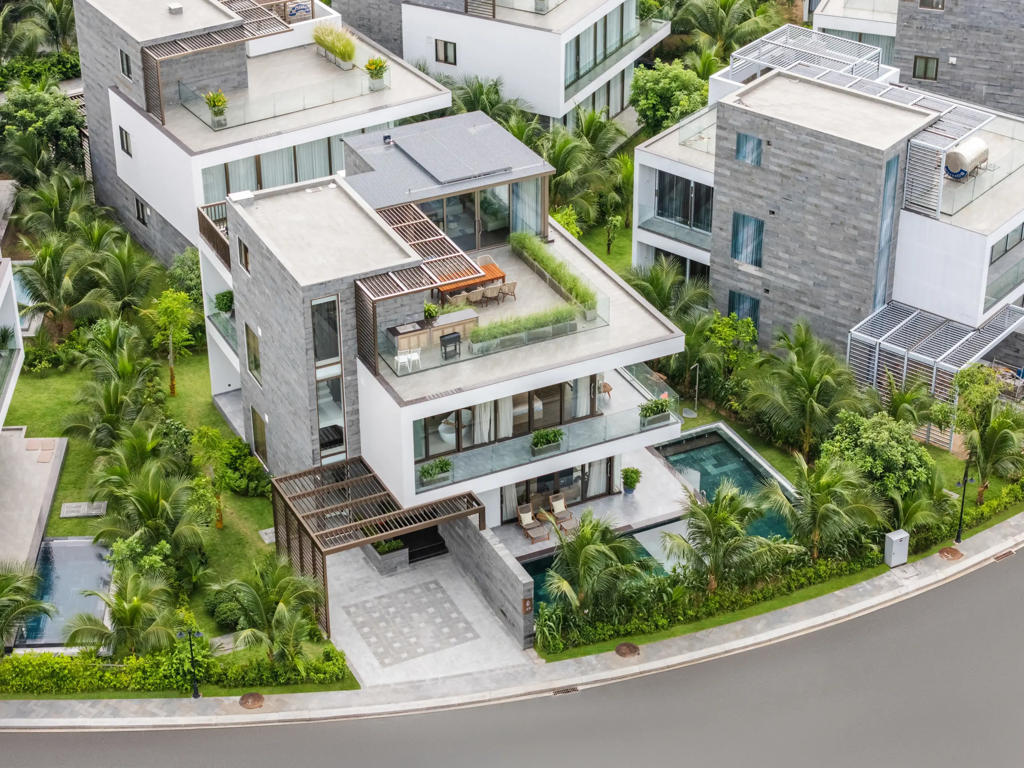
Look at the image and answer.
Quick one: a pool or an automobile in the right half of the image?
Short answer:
pool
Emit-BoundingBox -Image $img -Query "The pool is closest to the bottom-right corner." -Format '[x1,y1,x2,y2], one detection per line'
[521,424,833,625]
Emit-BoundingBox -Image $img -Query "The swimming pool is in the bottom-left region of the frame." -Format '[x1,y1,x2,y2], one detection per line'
[1,533,133,670]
